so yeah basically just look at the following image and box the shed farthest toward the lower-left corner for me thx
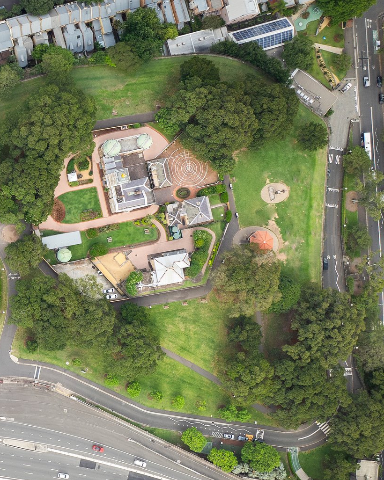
[42,231,81,250]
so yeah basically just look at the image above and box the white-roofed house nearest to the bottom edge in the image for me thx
[150,249,191,287]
